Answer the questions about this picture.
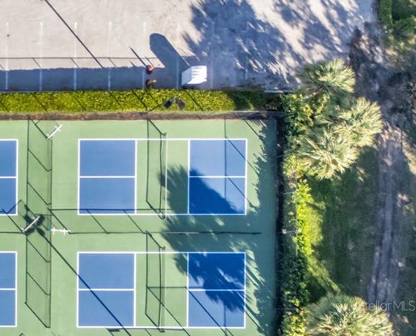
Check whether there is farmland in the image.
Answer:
No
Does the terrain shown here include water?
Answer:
No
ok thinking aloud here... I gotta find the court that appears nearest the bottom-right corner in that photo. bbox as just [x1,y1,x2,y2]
[189,254,245,327]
